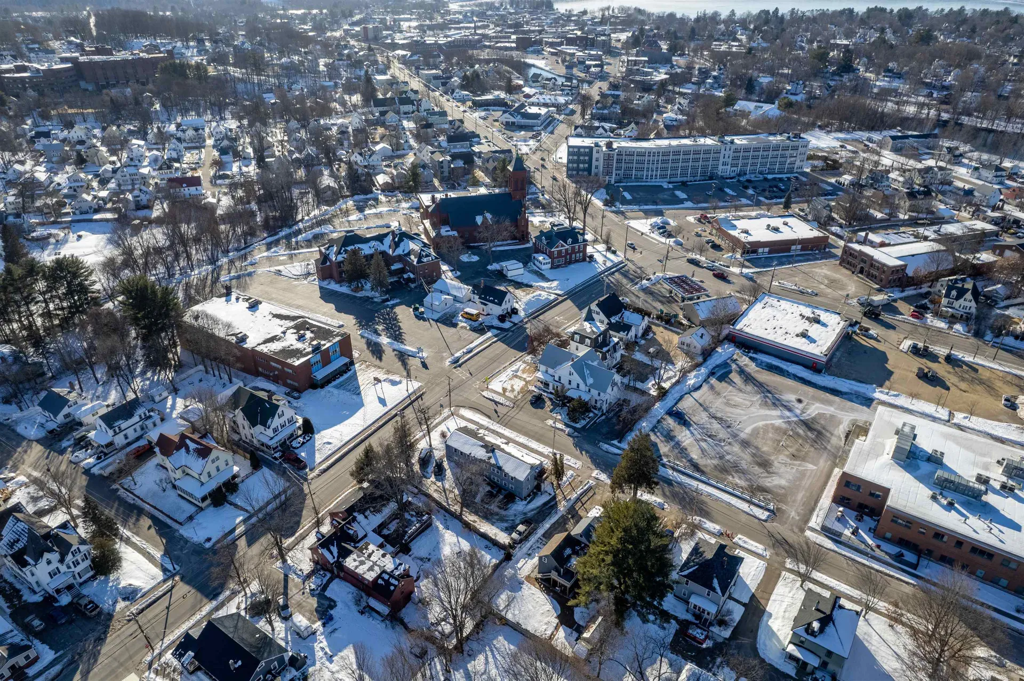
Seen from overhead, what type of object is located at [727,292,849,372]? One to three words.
building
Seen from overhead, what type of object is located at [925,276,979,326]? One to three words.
house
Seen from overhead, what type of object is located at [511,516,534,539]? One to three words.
truck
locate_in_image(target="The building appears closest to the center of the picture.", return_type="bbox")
[469,279,516,316]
